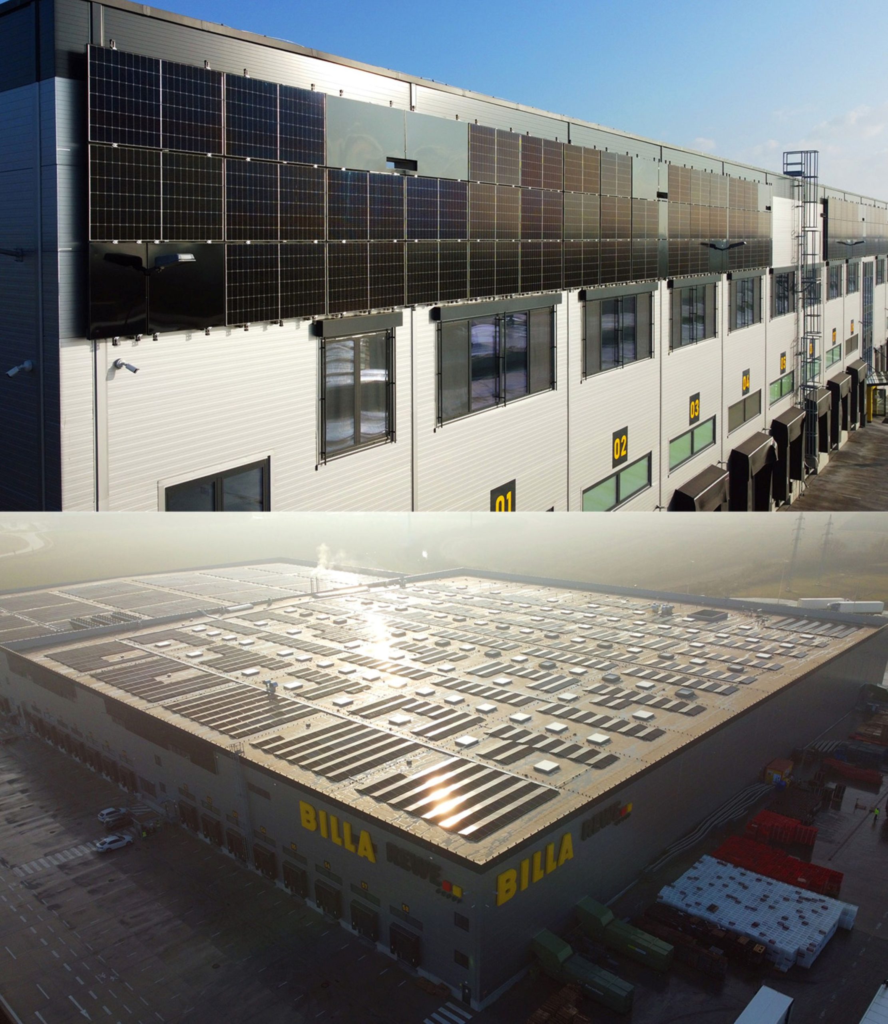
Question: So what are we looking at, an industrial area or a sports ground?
industrial area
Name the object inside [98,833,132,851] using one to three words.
car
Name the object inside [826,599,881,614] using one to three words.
trailer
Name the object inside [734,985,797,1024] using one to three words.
trailer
